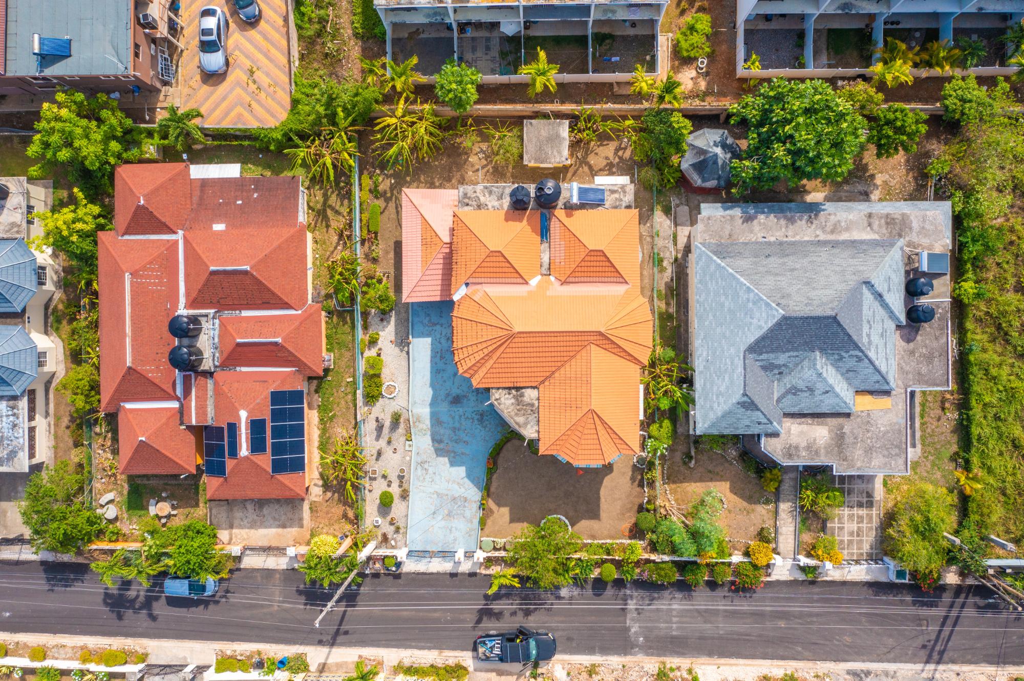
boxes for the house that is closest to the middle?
[402,185,654,467]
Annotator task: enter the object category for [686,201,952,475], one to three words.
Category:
house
